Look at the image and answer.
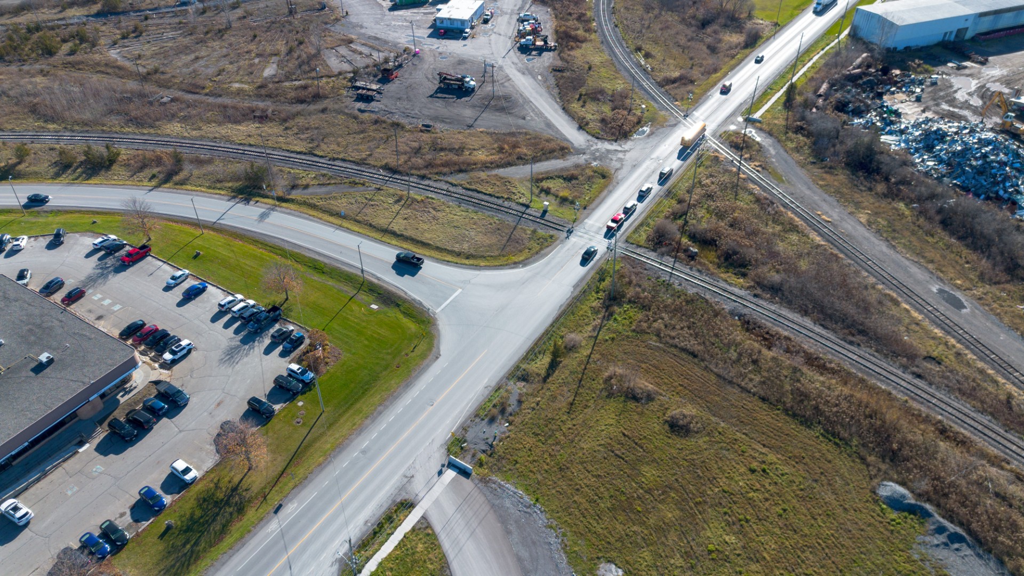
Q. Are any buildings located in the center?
No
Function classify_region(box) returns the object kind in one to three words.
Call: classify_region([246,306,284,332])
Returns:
truck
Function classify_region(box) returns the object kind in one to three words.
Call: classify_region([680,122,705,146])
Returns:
bus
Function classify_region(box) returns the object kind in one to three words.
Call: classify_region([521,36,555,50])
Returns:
vehicle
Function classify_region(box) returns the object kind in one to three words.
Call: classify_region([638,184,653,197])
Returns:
vehicle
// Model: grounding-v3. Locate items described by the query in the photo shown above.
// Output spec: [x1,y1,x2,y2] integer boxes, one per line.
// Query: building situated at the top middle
[431,0,479,28]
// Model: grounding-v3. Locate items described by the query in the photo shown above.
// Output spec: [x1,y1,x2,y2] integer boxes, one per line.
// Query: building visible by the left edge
[0,274,145,473]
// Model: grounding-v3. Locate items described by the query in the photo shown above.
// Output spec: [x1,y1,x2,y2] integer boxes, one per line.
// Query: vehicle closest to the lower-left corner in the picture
[0,496,35,530]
